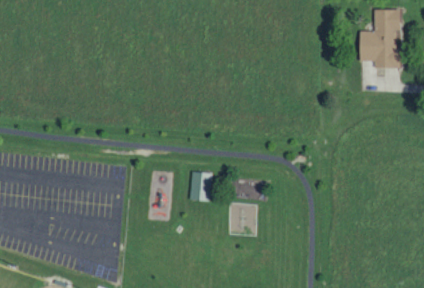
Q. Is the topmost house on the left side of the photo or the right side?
right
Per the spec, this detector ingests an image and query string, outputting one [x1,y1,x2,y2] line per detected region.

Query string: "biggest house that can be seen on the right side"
[360,9,401,68]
